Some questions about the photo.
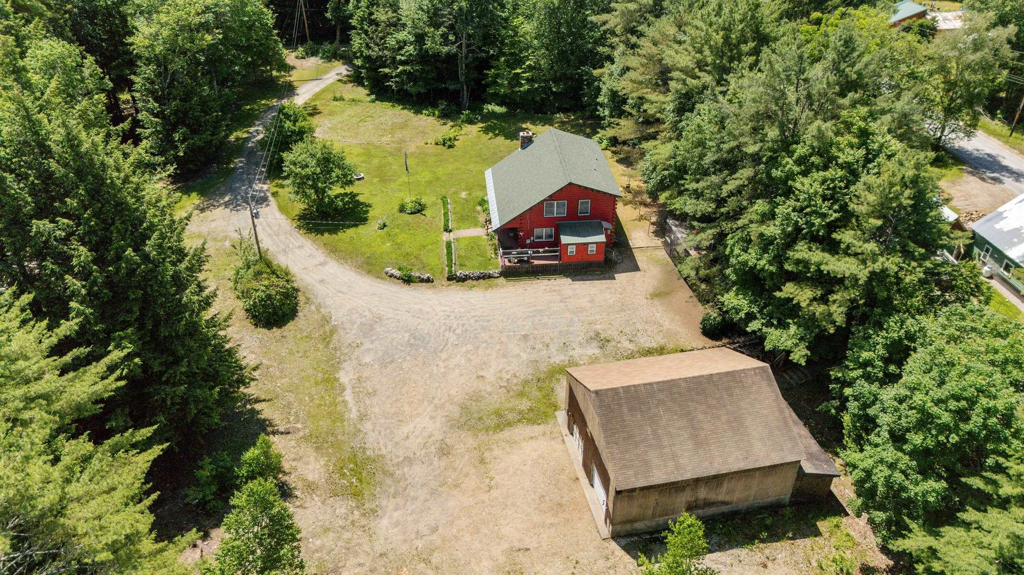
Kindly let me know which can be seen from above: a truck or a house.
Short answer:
house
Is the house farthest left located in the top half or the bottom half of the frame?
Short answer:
top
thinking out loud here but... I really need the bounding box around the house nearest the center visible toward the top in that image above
[484,128,621,274]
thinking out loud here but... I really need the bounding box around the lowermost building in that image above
[564,346,841,537]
